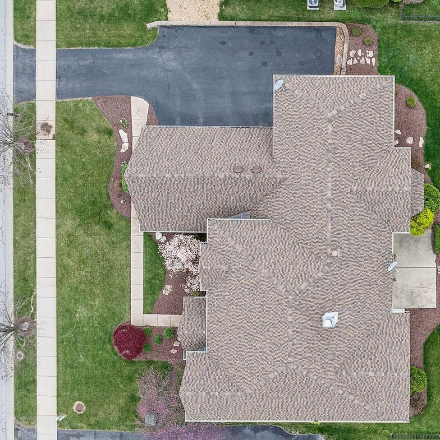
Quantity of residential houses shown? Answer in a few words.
1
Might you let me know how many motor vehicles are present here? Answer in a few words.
0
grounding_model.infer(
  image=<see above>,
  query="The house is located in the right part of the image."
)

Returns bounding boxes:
[125,74,424,423]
